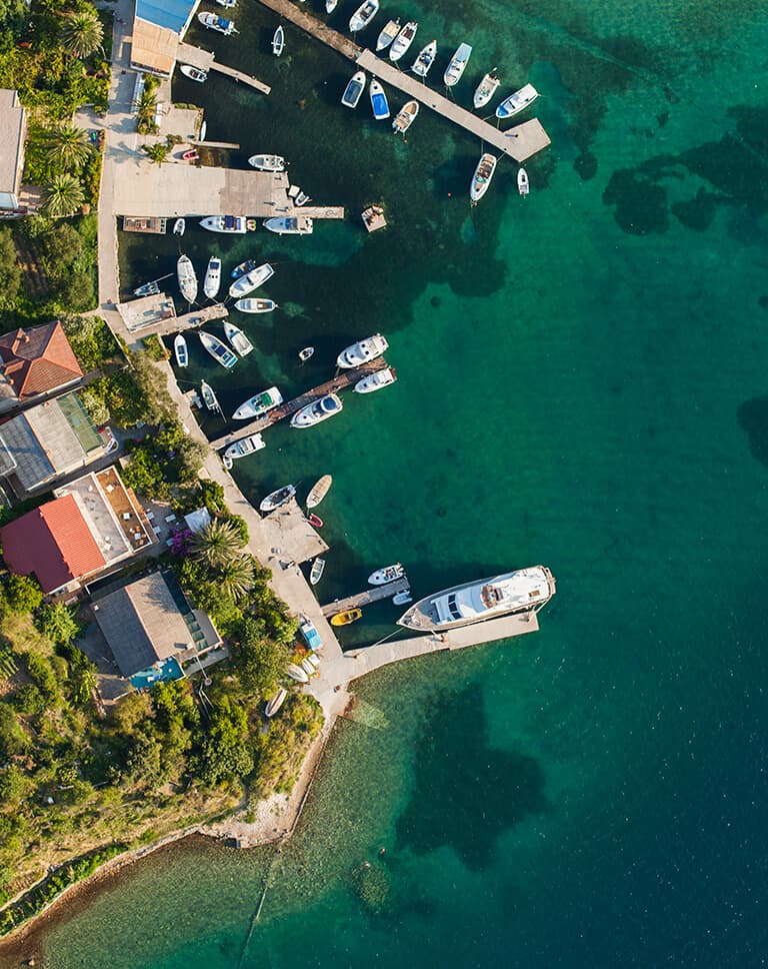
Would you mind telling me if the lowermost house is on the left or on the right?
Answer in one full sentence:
It is on the left.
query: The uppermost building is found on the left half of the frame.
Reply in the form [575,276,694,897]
[130,0,206,83]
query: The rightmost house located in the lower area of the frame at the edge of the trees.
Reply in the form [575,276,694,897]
[90,569,225,689]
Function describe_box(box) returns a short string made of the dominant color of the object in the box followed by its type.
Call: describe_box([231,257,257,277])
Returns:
blue boat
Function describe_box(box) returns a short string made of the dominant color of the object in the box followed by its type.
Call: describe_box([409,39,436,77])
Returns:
white boat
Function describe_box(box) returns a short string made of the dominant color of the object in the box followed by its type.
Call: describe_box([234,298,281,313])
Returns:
white boat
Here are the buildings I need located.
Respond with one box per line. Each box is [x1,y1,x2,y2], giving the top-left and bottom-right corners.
[0,88,29,210]
[0,392,121,490]
[90,569,225,689]
[130,0,206,83]
[2,465,161,598]
[0,320,86,413]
